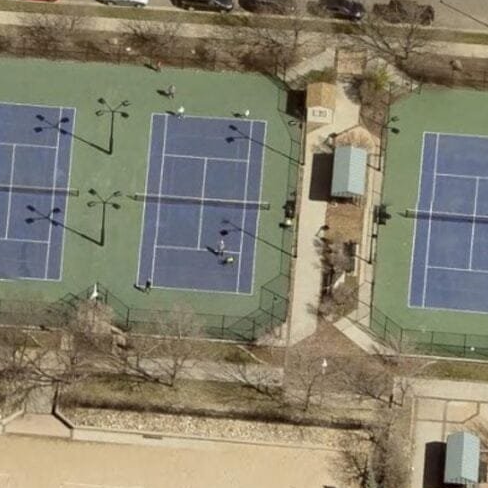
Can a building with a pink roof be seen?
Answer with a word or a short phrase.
No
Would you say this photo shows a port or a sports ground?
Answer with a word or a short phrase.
sports ground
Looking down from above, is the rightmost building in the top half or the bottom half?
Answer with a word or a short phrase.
bottom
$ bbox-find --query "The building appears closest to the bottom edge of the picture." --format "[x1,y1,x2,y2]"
[441,431,483,488]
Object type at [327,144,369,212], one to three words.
building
